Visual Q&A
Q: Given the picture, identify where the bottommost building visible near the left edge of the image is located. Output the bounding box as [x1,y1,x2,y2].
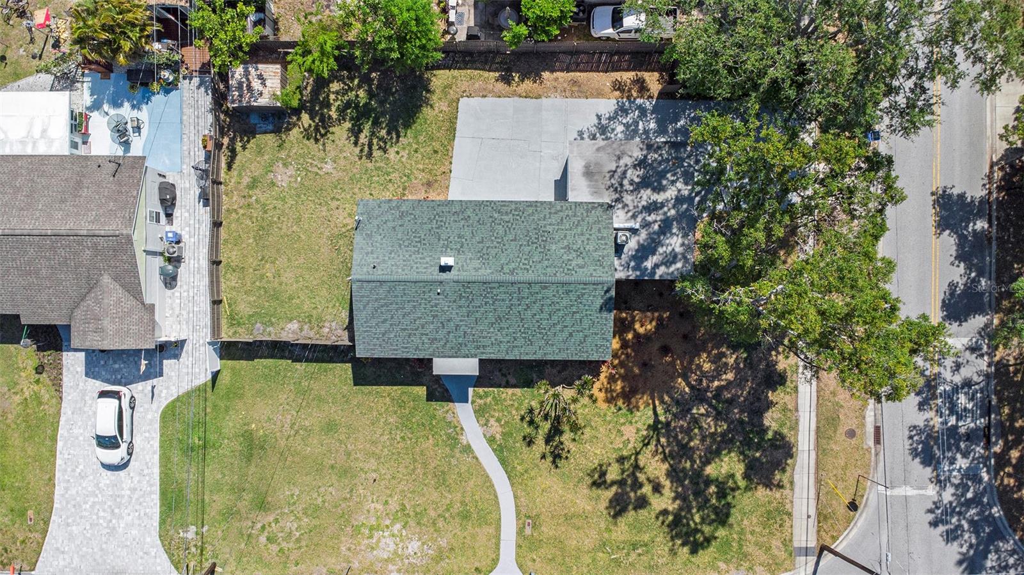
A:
[0,155,172,351]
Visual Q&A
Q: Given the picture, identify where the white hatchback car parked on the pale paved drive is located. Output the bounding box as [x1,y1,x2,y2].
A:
[90,384,135,467]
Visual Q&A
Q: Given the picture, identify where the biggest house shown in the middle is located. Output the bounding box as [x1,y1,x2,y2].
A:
[347,140,698,375]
